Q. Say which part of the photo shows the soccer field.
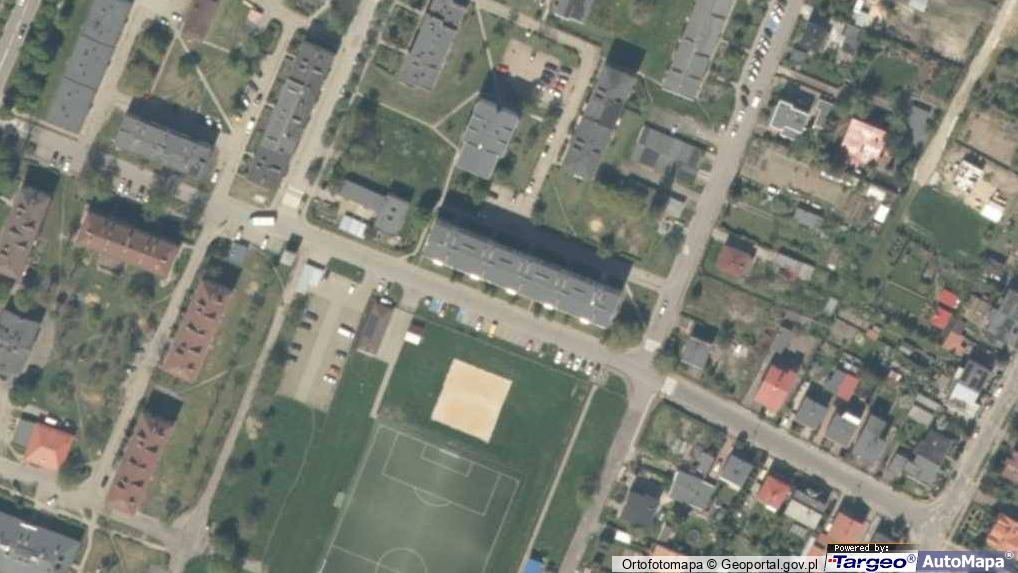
bottom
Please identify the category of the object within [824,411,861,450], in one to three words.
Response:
house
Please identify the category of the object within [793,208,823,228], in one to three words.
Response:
barn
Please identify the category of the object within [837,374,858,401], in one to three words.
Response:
shed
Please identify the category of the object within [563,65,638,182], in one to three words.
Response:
building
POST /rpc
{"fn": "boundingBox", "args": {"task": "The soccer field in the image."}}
[315,420,524,573]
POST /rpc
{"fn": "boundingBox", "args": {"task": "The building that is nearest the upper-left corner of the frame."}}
[46,0,136,137]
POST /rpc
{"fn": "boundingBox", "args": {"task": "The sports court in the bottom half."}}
[432,359,513,443]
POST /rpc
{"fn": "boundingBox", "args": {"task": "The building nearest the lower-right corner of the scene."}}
[987,513,1018,552]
